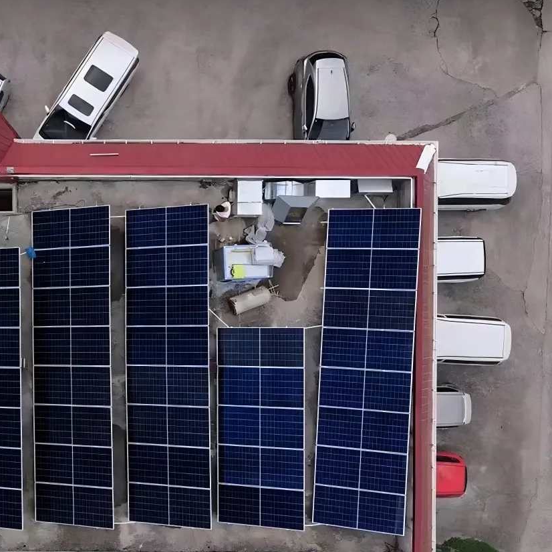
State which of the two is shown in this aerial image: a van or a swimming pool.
van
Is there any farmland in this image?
No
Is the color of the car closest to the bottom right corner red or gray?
red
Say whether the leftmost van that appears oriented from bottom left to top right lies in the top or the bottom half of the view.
top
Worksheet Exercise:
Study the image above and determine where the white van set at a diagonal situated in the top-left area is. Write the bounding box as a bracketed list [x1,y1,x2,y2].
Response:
[38,34,136,137]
